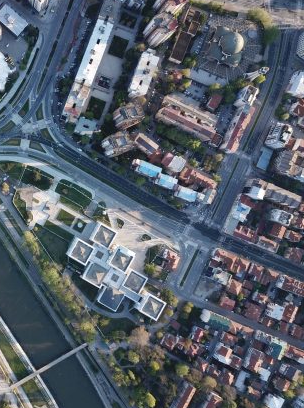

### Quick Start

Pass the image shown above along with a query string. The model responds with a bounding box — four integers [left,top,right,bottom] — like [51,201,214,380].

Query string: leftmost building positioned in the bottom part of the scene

[67,237,94,266]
